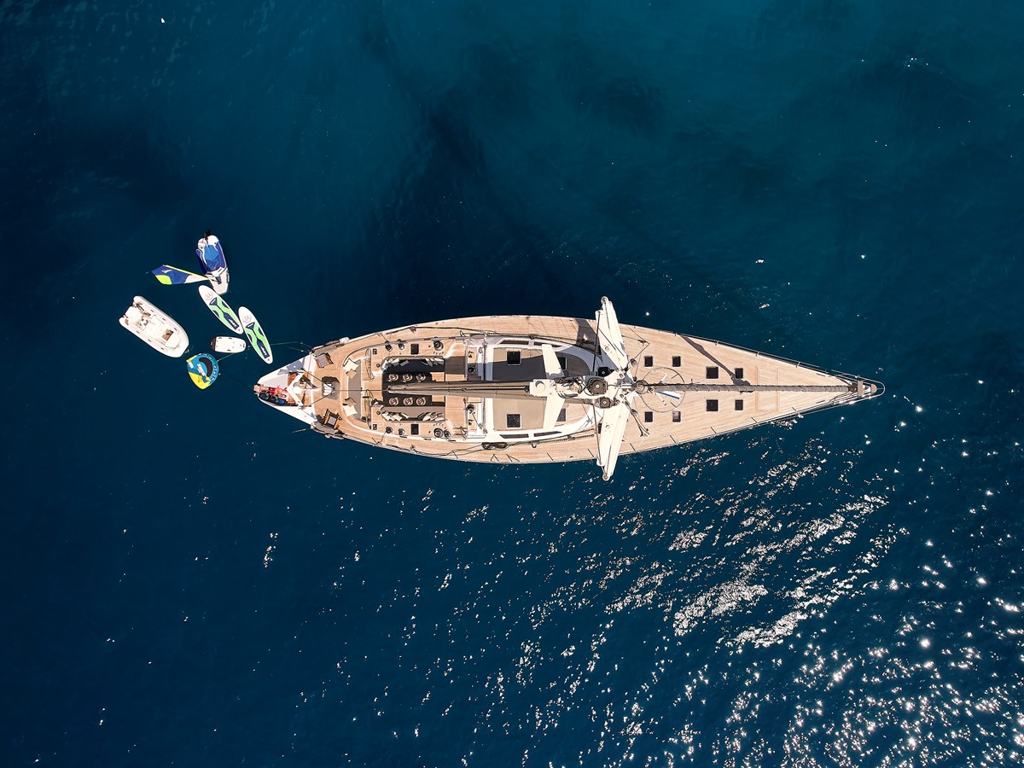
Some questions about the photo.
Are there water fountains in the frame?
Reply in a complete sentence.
No, I can see no water fountain in this picture.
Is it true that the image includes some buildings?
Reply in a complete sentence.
No, the photo shows no building.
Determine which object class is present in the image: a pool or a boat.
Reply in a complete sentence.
It is a boat that can be seen here.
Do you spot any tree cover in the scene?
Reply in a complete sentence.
No, the scene doesn't show any tree cover.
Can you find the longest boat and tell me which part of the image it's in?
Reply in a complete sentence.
The longest boat is located in the center region of the scene.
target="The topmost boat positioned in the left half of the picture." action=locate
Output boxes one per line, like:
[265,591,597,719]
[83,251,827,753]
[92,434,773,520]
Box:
[194,230,230,295]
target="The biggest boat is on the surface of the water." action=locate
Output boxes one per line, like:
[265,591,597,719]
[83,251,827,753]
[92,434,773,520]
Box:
[253,297,885,481]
